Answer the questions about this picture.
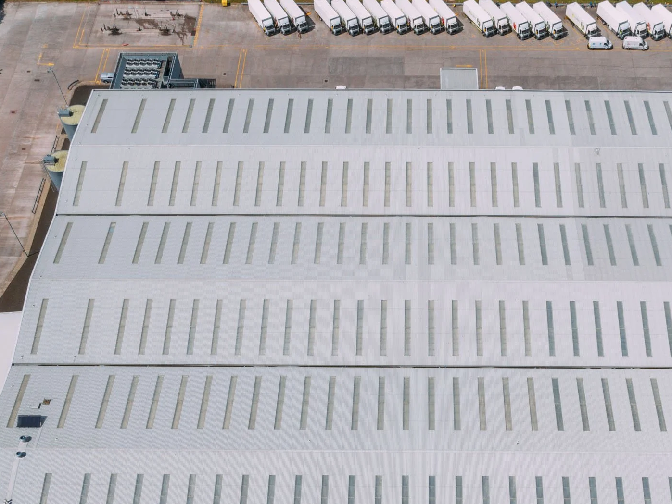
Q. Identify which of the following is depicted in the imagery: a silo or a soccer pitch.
silo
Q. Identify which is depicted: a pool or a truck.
truck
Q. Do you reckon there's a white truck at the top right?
Yes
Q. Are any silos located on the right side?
No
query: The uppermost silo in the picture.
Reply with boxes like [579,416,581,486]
[58,106,85,143]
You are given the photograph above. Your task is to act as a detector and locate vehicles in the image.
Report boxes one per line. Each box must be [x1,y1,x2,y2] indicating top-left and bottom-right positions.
[463,0,496,38]
[412,0,443,34]
[429,0,461,35]
[616,0,650,38]
[651,2,672,42]
[331,0,362,36]
[564,0,599,40]
[314,0,344,36]
[347,0,377,35]
[396,0,426,35]
[363,0,394,34]
[336,81,347,89]
[381,0,411,36]
[516,0,549,40]
[99,70,115,82]
[623,36,647,51]
[633,1,667,41]
[264,0,293,35]
[587,35,612,49]
[594,0,630,40]
[532,0,565,40]
[248,0,277,36]
[493,81,505,90]
[478,0,511,35]
[500,0,532,41]
[281,0,310,34]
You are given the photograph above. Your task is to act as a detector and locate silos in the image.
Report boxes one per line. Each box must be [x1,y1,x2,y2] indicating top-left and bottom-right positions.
[42,152,68,194]
[58,106,85,143]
